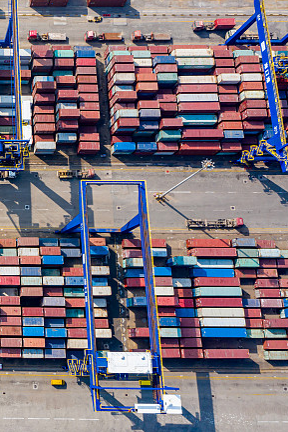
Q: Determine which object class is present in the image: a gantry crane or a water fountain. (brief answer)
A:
gantry crane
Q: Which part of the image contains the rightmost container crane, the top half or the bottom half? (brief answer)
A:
top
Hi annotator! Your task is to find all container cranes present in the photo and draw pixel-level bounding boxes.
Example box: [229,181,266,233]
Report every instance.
[0,0,37,172]
[55,176,187,416]
[218,0,288,174]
